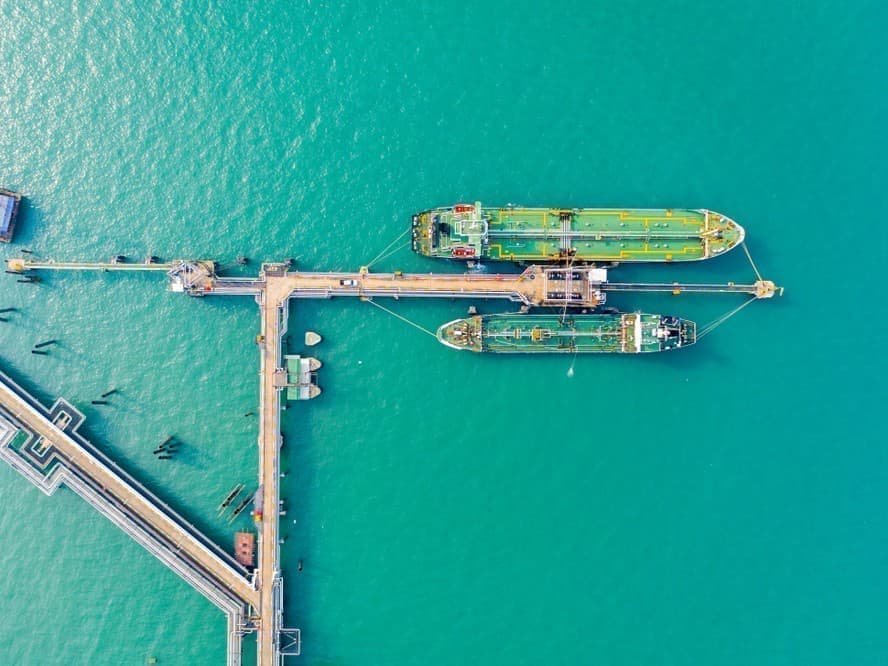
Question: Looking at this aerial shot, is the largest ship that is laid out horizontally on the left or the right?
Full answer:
You can find the largest ship that is laid out horizontally on the right side of the picture.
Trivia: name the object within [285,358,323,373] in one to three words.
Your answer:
boat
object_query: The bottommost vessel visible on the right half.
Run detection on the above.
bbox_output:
[438,315,699,353]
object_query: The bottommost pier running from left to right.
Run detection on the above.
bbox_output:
[273,369,321,389]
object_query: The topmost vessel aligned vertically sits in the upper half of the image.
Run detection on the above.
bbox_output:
[0,189,25,243]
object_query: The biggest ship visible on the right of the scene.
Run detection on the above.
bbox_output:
[413,199,749,264]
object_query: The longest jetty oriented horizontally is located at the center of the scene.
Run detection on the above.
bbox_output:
[259,263,536,310]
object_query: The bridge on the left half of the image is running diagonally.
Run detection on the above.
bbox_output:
[0,371,263,666]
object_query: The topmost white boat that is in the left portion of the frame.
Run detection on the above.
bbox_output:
[304,331,323,345]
